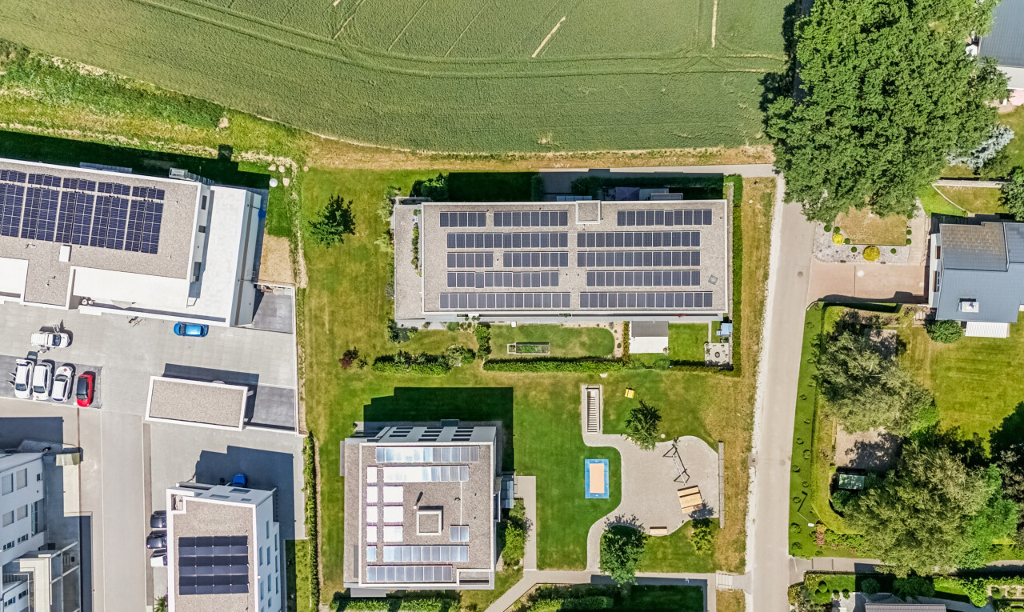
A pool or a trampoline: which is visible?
trampoline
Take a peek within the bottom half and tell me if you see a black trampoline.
No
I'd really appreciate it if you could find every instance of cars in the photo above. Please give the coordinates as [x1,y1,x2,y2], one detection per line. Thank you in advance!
[174,320,211,338]
[52,364,77,403]
[75,373,97,407]
[230,471,250,488]
[32,362,56,400]
[7,356,36,398]
[149,529,167,549]
[151,510,167,530]
[29,325,74,356]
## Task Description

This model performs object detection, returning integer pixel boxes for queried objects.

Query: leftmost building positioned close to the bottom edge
[0,453,81,612]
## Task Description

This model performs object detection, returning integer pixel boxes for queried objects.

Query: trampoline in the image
[584,459,609,499]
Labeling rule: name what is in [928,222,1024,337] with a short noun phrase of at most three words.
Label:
house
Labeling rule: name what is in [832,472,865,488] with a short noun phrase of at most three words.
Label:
shed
